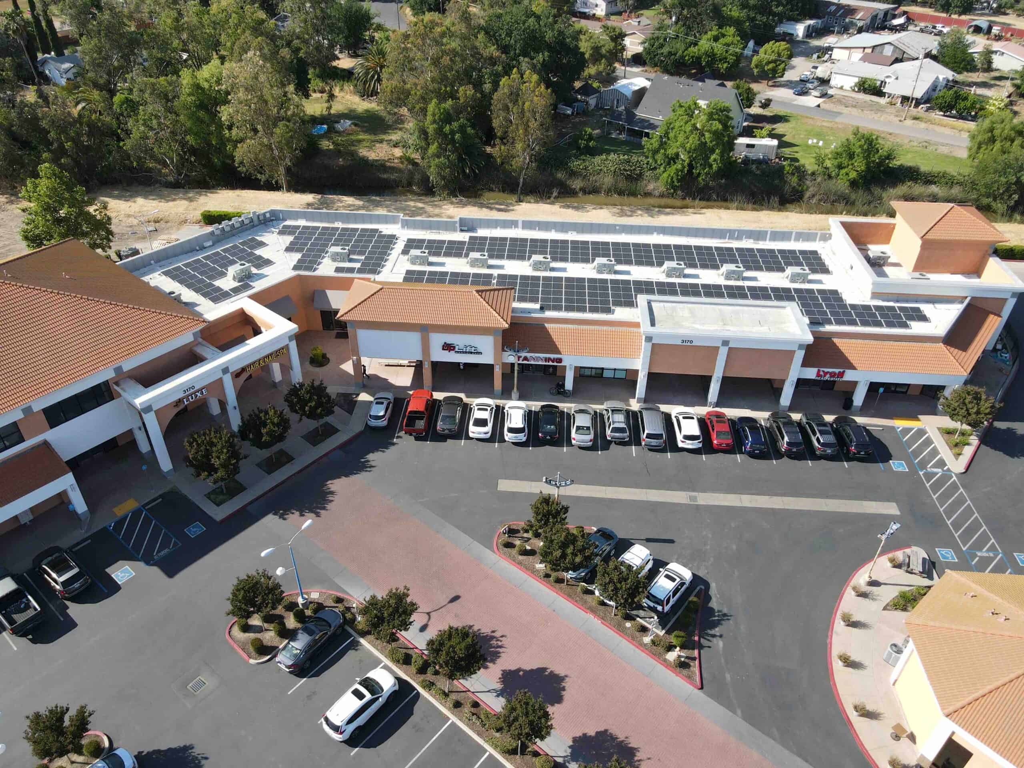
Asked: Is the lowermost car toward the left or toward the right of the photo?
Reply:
left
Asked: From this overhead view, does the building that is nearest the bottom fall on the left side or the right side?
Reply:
right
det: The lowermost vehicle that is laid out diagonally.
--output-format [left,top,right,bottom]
[320,670,403,748]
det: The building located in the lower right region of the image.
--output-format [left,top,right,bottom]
[884,570,1024,768]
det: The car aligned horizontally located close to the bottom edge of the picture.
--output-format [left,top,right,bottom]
[74,741,137,768]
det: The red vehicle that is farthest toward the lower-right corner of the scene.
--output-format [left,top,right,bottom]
[705,410,735,451]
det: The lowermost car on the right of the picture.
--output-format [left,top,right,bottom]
[641,561,701,623]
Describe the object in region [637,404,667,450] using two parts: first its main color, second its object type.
gray car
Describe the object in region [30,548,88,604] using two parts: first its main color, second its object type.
black car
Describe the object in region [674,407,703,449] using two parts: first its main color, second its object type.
white car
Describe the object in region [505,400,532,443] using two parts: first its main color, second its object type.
white car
